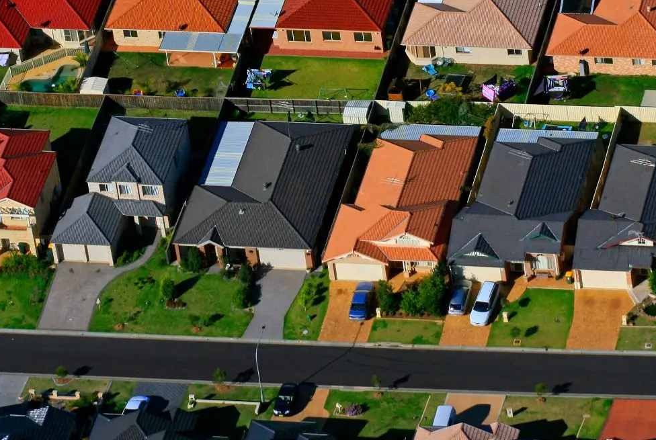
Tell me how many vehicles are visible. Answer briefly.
6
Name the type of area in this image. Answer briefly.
residential area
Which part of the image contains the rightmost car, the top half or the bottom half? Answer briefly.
bottom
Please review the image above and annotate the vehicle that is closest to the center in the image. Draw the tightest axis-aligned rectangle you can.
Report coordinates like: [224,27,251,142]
[349,287,375,319]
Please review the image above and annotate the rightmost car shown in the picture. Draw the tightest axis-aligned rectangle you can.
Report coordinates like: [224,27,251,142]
[470,283,500,322]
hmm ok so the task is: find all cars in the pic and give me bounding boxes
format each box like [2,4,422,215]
[349,287,375,319]
[271,383,301,420]
[446,285,472,315]
[117,392,152,414]
[470,283,500,322]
